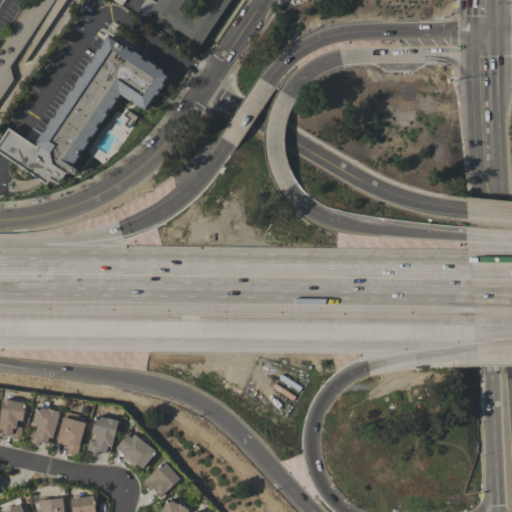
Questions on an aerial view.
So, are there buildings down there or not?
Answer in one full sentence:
Yes, this view includes a building.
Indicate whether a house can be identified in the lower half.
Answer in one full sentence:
Yes, looking in the lower half, one can make out a house.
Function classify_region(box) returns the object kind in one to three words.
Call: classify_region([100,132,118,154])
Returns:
swimming pool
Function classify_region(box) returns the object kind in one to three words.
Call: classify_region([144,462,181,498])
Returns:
house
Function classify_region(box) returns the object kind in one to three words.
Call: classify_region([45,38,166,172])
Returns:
building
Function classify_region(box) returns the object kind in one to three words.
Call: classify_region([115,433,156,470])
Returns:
house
